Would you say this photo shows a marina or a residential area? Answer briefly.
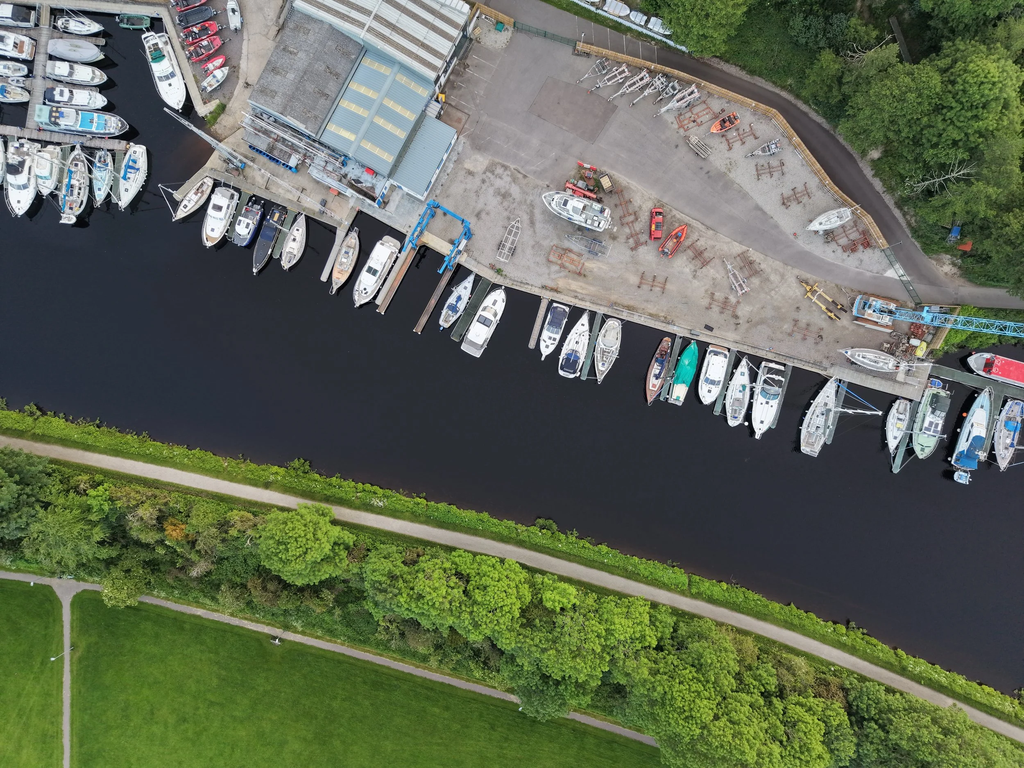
marina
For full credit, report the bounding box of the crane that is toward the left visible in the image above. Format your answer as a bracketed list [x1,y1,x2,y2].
[168,106,356,234]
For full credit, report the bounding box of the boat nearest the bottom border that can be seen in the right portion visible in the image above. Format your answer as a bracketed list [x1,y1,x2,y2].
[950,472,972,484]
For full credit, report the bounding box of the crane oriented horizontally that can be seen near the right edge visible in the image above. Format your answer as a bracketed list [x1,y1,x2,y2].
[851,289,1024,338]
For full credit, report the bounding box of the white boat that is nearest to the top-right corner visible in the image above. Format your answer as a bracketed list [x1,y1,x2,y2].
[809,204,868,232]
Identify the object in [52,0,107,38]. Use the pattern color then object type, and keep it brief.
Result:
white boat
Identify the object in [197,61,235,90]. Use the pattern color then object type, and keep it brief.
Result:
white boat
